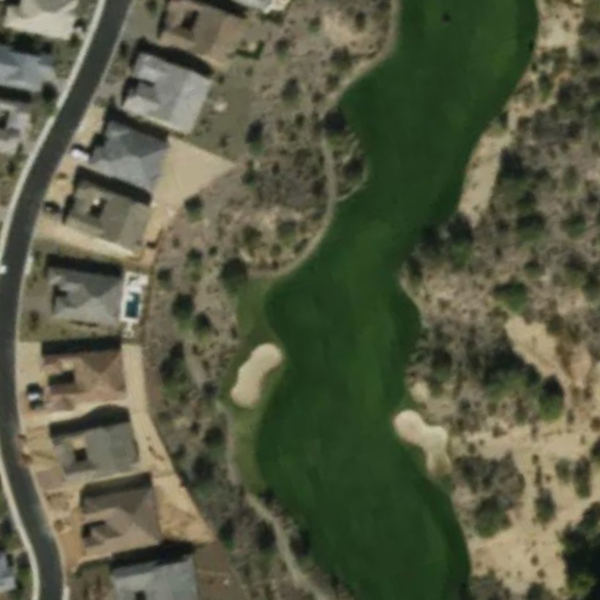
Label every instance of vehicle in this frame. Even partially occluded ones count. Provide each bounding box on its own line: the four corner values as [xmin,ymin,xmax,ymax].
[31,390,40,409]
[70,149,91,162]
[43,205,62,215]
[73,25,85,35]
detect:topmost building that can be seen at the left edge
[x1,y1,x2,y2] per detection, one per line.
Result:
[5,0,79,39]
